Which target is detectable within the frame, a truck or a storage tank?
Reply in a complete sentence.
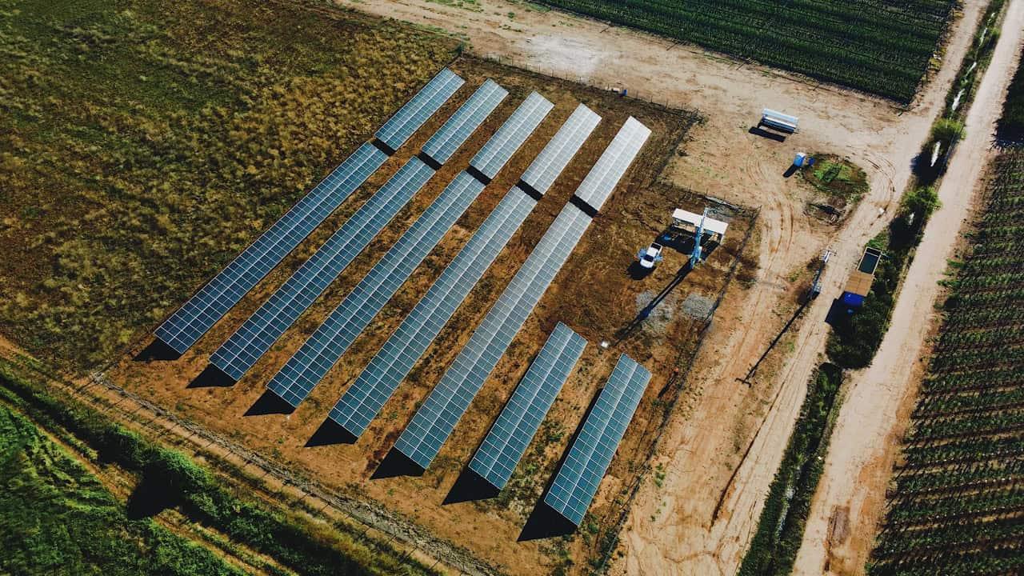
Visible in the photo is a truck.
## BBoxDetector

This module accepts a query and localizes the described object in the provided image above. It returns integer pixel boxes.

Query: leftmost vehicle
[640,242,664,269]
